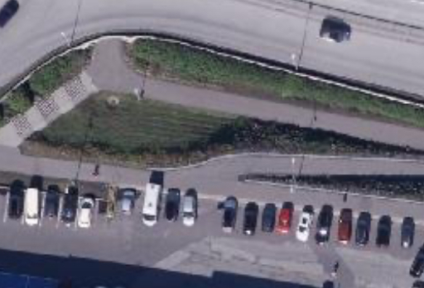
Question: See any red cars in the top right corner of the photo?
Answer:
No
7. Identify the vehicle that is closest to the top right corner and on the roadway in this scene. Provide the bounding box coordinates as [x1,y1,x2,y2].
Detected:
[318,23,350,42]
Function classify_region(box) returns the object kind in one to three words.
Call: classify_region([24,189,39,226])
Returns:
vehicle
